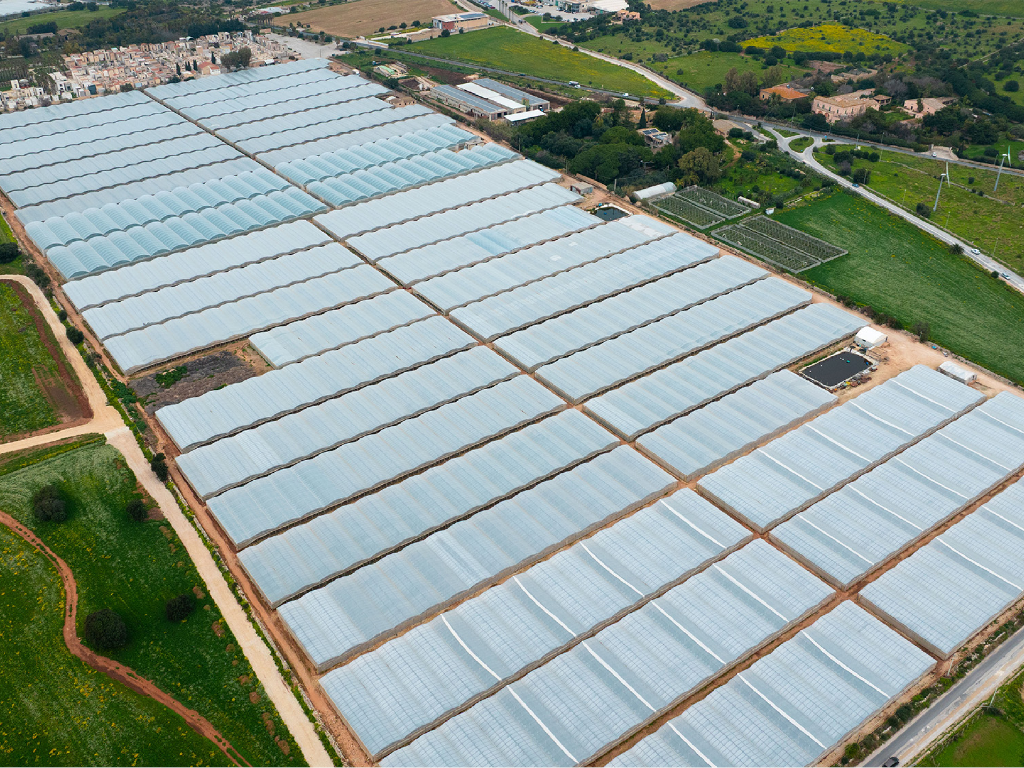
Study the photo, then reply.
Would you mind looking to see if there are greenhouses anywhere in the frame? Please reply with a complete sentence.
Yes, the picture does show a greenhouse.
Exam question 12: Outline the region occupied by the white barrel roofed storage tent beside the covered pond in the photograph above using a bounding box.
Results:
[854,327,885,348]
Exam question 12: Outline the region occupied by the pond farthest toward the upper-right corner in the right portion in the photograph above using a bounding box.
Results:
[798,349,876,387]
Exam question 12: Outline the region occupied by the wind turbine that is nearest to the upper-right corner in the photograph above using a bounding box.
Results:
[992,141,1013,191]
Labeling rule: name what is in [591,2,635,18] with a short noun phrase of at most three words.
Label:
building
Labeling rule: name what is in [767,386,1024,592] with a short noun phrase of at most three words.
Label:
greenhouse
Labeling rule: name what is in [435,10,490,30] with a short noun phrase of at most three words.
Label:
building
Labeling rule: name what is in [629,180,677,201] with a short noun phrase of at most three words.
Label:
greenhouse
